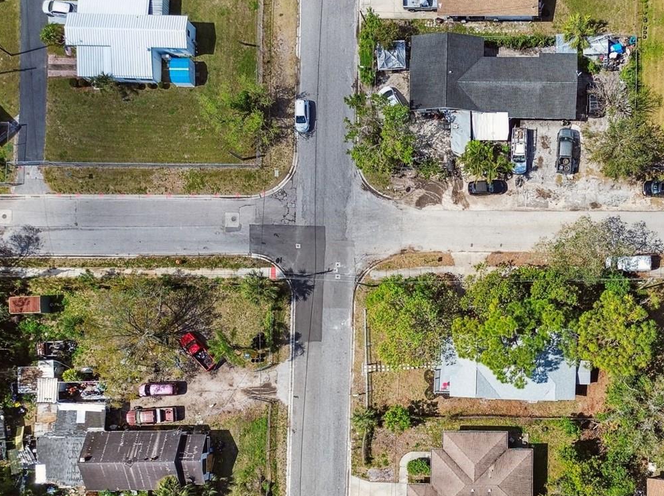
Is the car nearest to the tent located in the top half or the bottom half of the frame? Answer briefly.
top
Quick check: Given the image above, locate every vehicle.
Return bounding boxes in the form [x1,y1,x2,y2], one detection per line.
[380,82,408,116]
[605,254,652,271]
[42,0,78,18]
[510,127,528,174]
[403,0,437,10]
[140,381,180,398]
[293,98,310,134]
[179,332,220,373]
[469,179,506,195]
[557,129,574,174]
[643,179,664,197]
[127,408,176,425]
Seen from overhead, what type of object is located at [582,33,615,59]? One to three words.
shed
